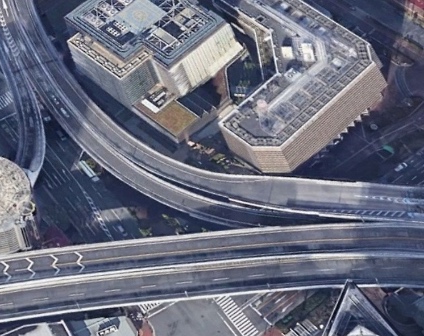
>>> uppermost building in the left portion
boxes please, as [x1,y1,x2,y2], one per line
[65,0,241,143]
